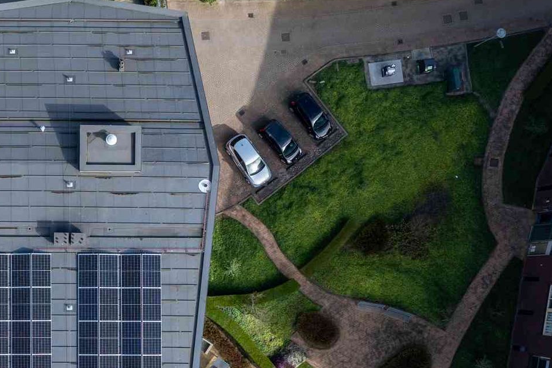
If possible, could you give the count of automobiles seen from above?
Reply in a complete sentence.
I count 3 automobiles.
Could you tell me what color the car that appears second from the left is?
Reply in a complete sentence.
From above, the car that appears second from the left appears black.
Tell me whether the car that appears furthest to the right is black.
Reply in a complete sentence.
Yes, the car that appears furthest to the right is indeed black.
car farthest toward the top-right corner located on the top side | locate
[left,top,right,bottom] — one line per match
[285,86,332,146]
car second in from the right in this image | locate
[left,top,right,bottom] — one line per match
[255,112,302,171]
